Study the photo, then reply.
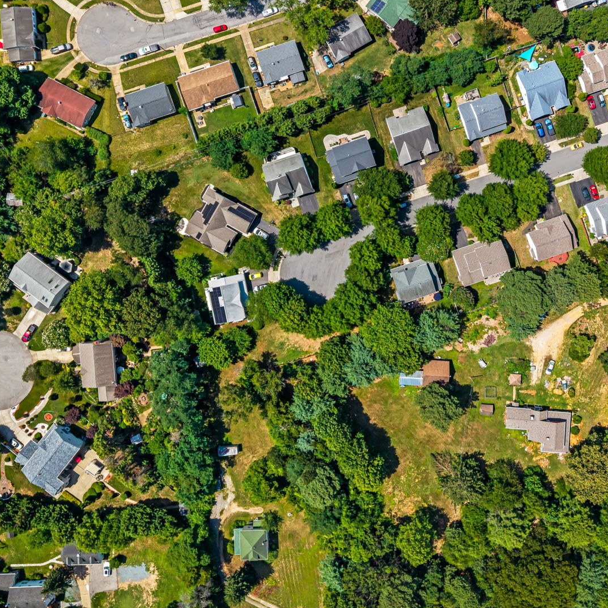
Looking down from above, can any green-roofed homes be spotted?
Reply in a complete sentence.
Yes, looking at the shot, I can spot a green-roofed home.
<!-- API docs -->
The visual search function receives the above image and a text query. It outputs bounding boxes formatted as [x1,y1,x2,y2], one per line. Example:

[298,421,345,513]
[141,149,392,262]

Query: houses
[15,422,88,497]
[263,152,312,205]
[516,61,571,121]
[35,77,97,127]
[326,136,376,186]
[457,92,509,142]
[556,0,596,11]
[386,106,438,165]
[184,184,257,255]
[124,82,175,125]
[367,0,416,29]
[232,522,271,562]
[504,406,572,455]
[390,259,440,301]
[525,215,579,263]
[256,39,306,86]
[452,240,508,282]
[9,252,71,311]
[579,49,608,91]
[177,61,239,111]
[326,12,377,64]
[584,197,608,237]
[0,570,52,608]
[0,6,38,62]
[208,274,247,324]
[72,338,120,402]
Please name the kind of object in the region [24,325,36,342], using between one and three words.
vehicle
